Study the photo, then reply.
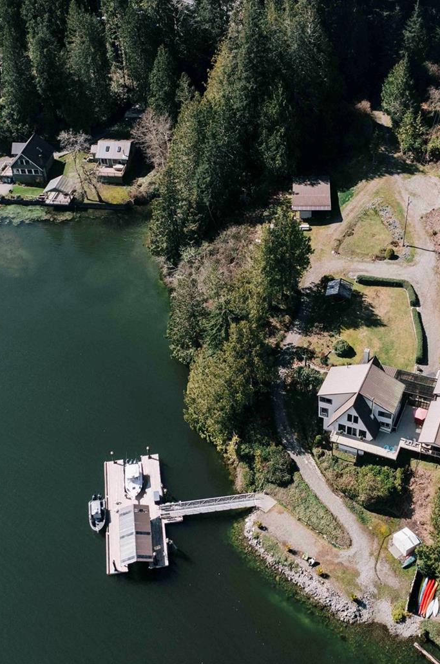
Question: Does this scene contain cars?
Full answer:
No, I can see no car in this picture.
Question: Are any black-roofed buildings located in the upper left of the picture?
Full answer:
Yes, a black-roofed building shows up in the upper left of the picture.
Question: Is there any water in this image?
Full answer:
Yes, there's water in this view.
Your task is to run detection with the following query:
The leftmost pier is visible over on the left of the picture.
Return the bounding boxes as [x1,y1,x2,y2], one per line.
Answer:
[104,454,183,575]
